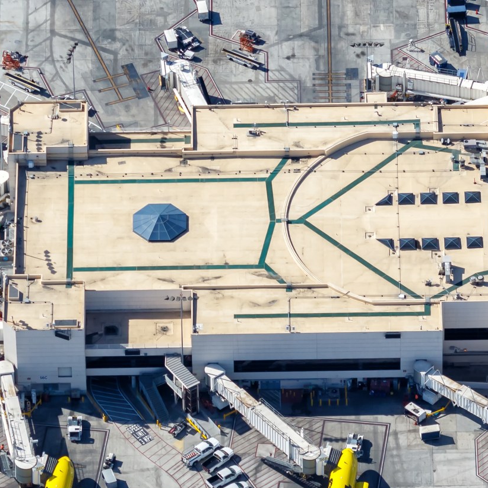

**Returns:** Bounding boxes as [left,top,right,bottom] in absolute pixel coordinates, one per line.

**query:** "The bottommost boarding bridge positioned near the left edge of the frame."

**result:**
[0,363,58,485]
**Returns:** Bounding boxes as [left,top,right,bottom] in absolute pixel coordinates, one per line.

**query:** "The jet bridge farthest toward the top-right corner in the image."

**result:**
[369,65,488,105]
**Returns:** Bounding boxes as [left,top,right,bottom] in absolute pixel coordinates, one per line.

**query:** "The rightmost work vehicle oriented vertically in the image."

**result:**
[448,14,460,52]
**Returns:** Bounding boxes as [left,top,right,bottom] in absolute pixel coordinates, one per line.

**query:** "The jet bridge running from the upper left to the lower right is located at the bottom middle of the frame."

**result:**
[207,364,339,481]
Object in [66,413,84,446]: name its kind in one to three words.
work vehicle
